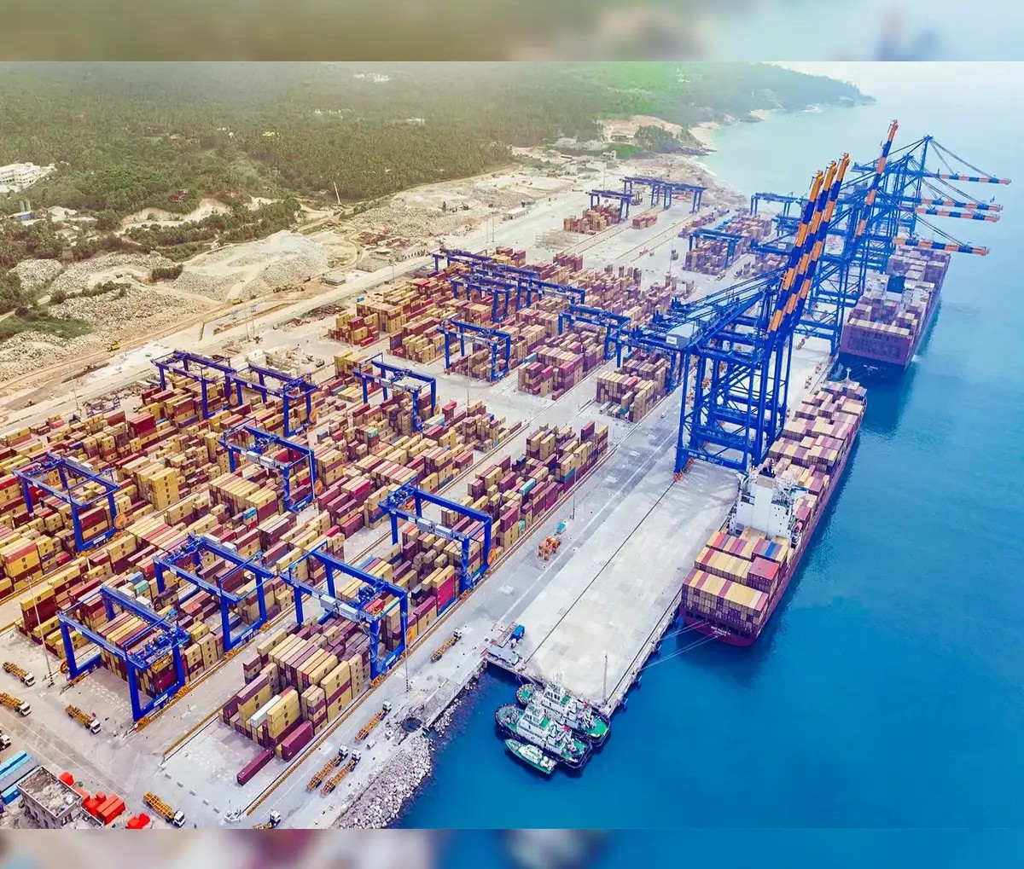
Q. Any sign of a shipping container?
Yes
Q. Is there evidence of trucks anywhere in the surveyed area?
Yes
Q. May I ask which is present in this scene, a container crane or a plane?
container crane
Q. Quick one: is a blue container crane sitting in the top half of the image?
Yes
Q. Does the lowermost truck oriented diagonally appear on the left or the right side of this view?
left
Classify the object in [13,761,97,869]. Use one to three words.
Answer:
building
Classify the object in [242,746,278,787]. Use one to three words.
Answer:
shipping container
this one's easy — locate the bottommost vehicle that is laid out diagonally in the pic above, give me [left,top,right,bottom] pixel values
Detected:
[140,791,183,830]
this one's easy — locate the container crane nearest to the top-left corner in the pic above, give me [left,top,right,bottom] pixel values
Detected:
[154,339,236,420]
